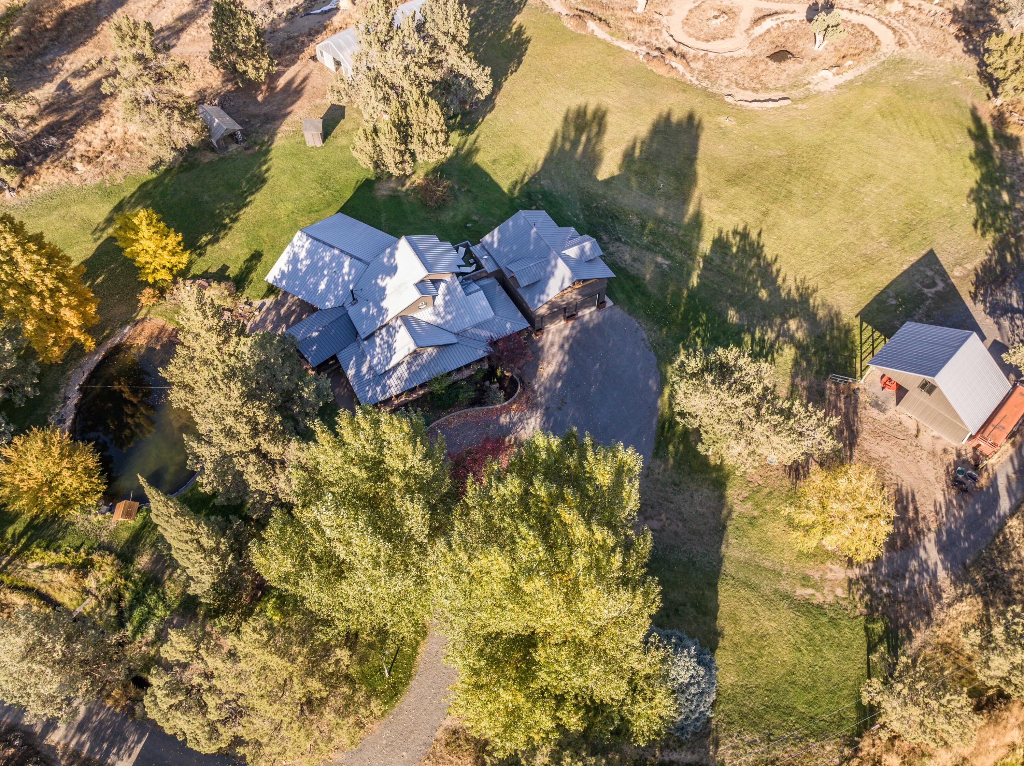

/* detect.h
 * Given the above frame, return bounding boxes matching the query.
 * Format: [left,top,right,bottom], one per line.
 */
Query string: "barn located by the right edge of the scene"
[861,321,1014,447]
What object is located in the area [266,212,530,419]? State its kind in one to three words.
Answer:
house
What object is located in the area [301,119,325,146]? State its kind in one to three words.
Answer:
shed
